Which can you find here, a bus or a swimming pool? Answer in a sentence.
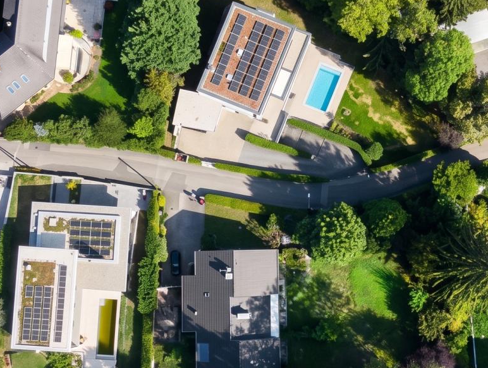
Of the two, only a swimming pool appears.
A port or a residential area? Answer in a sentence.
The picture captures a residential area.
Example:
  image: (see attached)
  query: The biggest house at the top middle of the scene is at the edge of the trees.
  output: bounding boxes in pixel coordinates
[197,2,312,124]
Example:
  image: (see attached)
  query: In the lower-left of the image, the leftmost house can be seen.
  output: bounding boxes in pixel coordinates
[11,201,137,351]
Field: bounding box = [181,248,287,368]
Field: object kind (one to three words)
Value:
house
